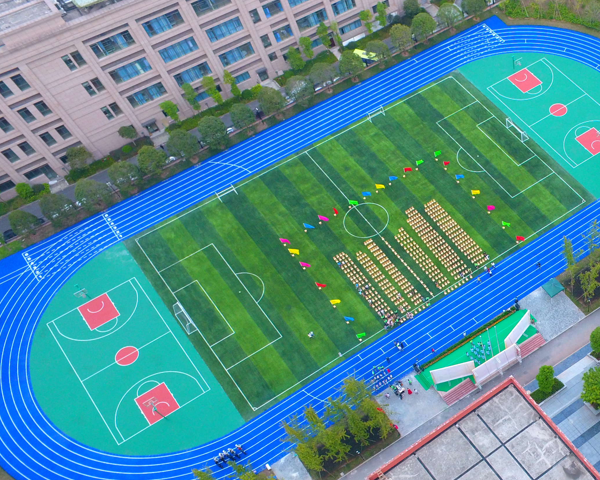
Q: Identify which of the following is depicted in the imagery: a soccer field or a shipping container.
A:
soccer field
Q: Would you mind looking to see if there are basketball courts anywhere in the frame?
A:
Yes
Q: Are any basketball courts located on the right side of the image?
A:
Yes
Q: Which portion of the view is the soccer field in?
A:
center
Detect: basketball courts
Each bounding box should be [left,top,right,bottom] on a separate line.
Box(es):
[457,53,600,200]
[31,241,245,453]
